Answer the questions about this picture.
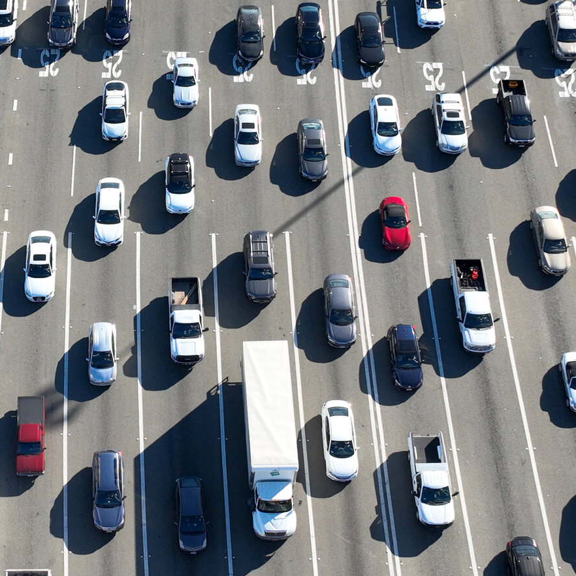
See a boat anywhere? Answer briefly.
No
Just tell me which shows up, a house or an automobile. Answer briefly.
automobile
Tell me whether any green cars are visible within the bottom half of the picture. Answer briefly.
No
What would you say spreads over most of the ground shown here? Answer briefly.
paved ground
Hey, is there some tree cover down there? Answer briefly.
No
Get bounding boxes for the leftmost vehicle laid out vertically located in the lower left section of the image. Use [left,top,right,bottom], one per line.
[11,393,48,476]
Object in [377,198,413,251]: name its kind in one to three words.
car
